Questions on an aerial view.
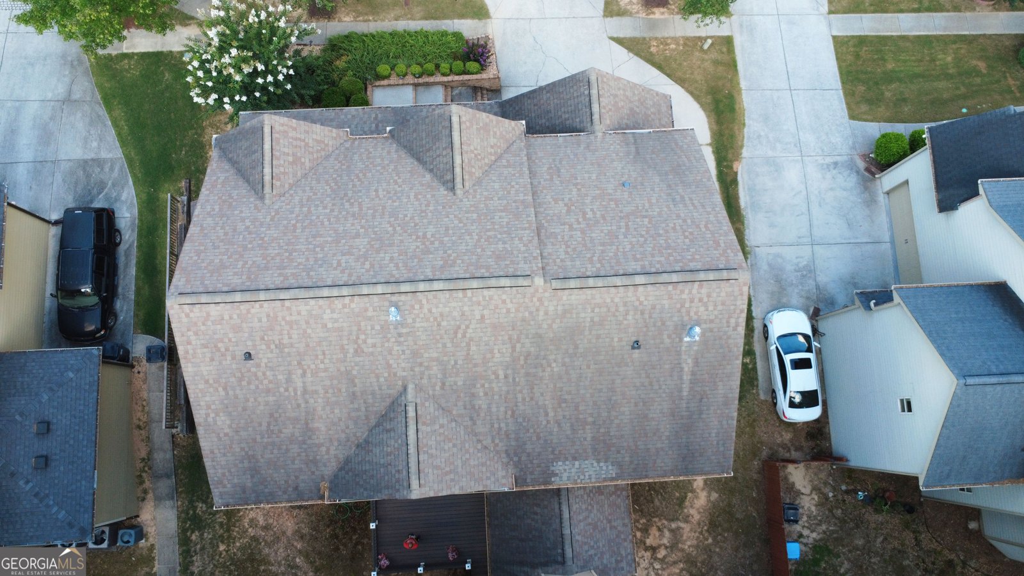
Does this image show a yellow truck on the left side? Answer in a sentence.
No, no yellow truck can be made out on the left side.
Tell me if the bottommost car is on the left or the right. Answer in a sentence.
You can find the bottommost car on the right side of the picture.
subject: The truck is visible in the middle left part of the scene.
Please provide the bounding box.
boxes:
[48,206,122,342]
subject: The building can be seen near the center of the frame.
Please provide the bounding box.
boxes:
[167,68,748,576]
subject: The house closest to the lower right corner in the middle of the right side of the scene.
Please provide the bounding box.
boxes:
[815,105,1024,563]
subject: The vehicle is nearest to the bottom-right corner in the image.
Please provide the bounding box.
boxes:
[763,309,822,423]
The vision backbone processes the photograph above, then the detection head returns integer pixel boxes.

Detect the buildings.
[167,68,748,576]
[0,184,140,553]
[815,105,1024,563]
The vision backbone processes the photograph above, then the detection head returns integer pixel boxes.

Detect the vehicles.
[48,206,122,342]
[763,309,822,423]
